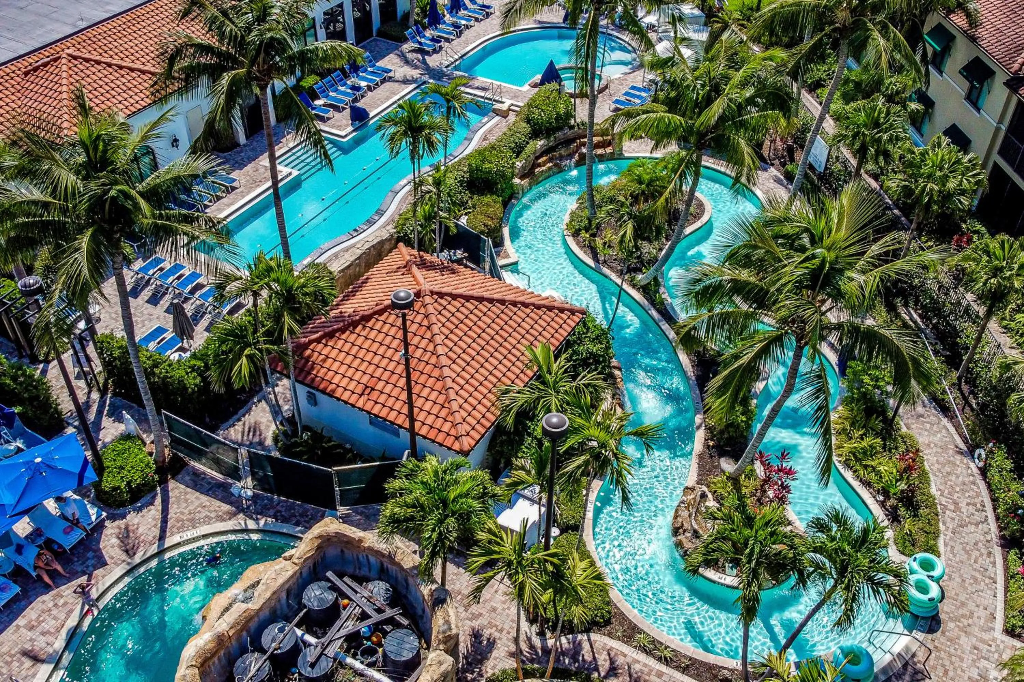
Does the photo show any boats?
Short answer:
No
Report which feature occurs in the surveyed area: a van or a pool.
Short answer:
pool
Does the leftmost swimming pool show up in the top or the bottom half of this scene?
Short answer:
bottom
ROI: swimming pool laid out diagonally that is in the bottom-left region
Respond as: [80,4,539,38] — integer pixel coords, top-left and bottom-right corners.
[61,540,317,682]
